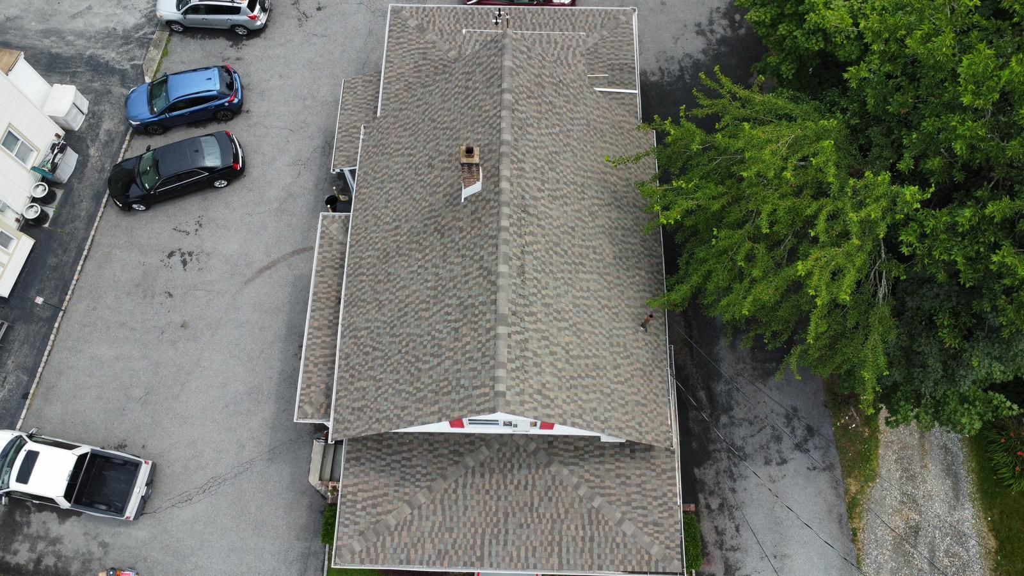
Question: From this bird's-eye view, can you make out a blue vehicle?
Yes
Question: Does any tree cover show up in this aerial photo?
Yes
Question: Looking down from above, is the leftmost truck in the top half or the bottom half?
bottom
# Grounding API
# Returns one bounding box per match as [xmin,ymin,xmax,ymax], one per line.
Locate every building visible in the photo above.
[0,45,62,326]
[291,1,694,576]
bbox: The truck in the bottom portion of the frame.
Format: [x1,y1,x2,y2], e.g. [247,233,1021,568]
[0,421,166,522]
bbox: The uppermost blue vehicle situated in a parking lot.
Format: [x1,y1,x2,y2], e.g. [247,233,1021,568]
[126,63,248,134]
